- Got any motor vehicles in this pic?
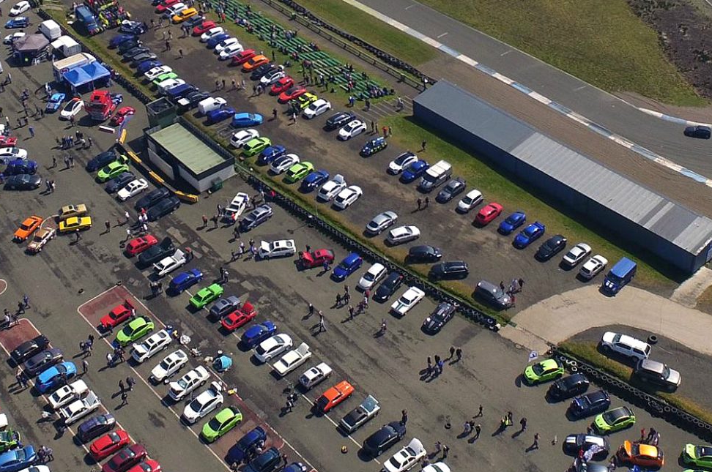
Yes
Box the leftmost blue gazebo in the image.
[61,61,113,99]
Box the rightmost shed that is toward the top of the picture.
[411,79,712,274]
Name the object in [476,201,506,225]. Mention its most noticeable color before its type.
red car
